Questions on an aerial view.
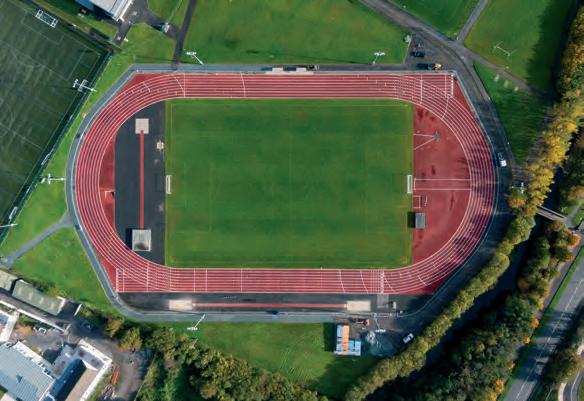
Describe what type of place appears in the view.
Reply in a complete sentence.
This looks like a sports ground.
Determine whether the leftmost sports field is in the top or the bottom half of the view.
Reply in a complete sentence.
Seen from above, the leftmost sports field lies in the top half of the view.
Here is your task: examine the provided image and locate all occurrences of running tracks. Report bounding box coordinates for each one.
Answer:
[74,74,496,293]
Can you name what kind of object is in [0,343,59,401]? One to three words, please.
building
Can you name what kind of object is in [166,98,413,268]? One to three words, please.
soccer field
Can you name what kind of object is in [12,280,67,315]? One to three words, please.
building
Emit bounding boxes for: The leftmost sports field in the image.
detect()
[0,0,112,245]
